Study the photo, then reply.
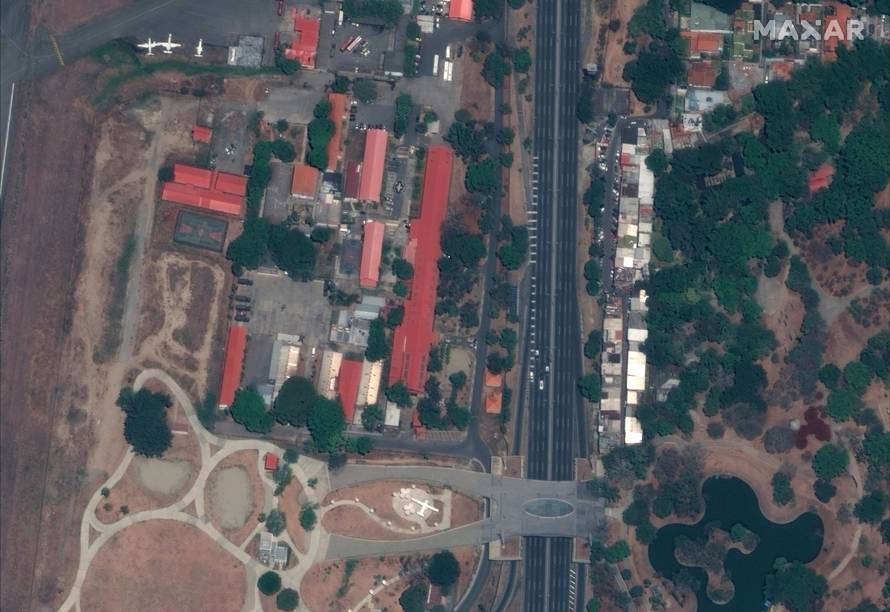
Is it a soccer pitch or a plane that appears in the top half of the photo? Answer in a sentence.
There is a plane in the top half of the photo.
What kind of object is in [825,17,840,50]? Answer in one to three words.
house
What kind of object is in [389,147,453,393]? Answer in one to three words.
building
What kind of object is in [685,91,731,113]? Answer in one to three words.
house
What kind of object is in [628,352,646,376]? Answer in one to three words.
building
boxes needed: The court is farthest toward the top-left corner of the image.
[174,208,229,252]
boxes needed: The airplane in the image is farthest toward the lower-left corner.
[410,498,440,515]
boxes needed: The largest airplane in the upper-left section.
[156,34,181,52]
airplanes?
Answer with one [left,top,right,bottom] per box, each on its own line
[196,39,203,56]
[410,498,440,515]
[156,34,181,52]
[140,38,159,53]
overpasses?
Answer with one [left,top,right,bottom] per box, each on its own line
[471,457,606,562]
